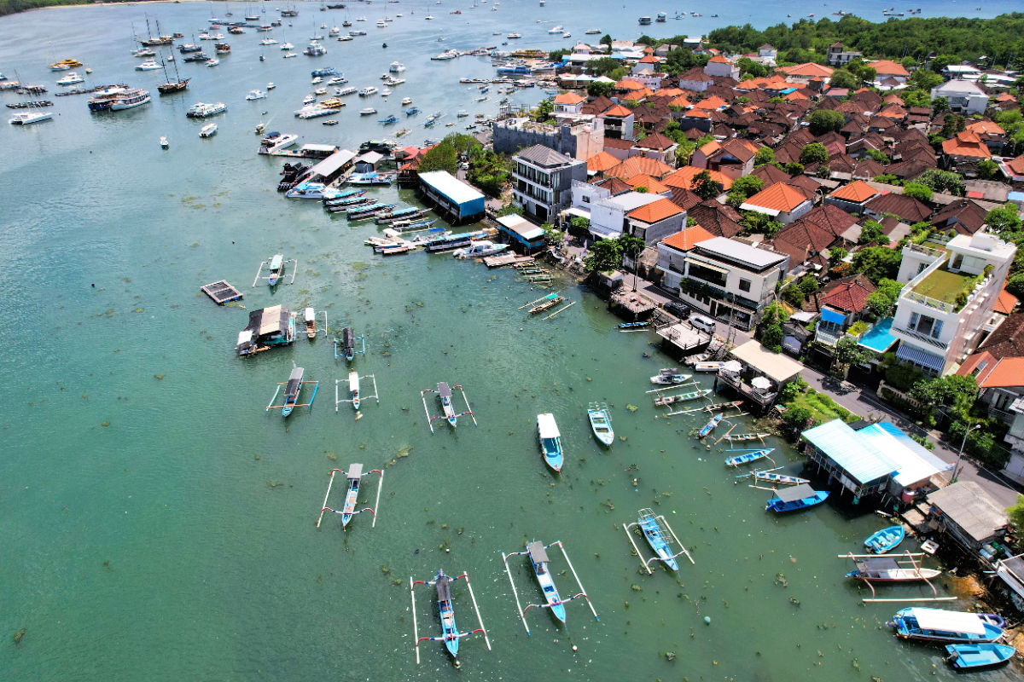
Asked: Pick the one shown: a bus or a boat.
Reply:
boat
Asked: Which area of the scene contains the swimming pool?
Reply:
right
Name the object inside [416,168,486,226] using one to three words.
shed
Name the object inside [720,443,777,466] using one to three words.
boat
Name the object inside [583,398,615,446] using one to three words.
boat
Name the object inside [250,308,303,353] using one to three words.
house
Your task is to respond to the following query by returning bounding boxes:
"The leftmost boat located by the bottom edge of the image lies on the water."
[412,563,486,665]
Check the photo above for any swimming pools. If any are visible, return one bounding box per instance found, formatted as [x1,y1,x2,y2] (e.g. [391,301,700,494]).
[853,316,894,370]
